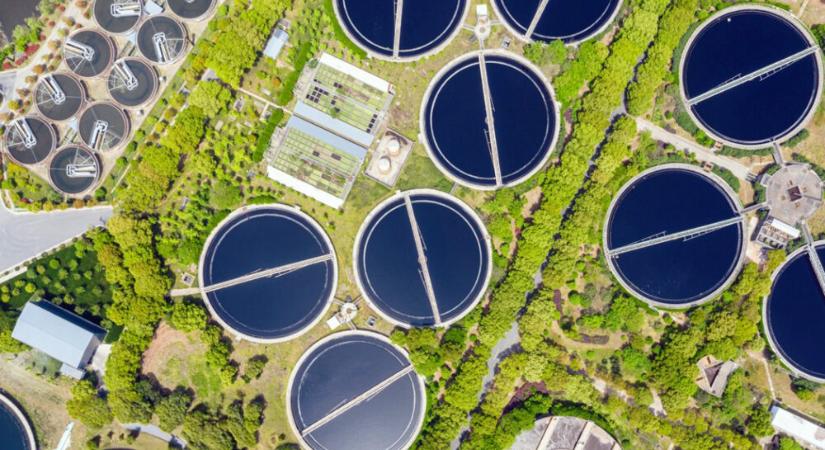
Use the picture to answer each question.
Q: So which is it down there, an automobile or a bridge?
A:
bridge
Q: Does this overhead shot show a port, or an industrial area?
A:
industrial area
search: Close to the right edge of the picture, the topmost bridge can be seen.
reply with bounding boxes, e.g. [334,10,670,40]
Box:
[685,45,822,107]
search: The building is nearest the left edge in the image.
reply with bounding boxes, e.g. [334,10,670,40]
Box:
[12,299,105,379]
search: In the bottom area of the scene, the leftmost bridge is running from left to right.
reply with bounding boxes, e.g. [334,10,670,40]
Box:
[198,254,336,293]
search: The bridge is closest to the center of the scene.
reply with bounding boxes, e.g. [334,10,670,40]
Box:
[403,190,442,327]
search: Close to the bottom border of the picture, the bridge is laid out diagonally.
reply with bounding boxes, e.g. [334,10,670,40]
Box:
[295,361,417,440]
